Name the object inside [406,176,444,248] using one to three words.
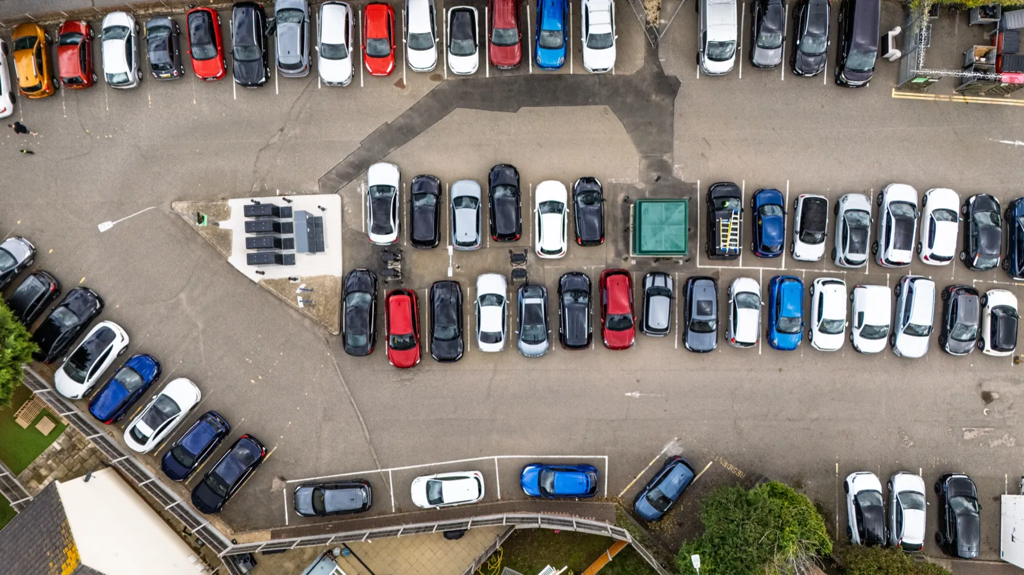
car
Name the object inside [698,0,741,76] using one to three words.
van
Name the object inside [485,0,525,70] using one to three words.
car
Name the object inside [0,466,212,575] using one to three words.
house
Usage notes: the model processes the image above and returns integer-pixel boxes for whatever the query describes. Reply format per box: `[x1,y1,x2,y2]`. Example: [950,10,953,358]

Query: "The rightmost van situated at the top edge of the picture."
[837,0,885,88]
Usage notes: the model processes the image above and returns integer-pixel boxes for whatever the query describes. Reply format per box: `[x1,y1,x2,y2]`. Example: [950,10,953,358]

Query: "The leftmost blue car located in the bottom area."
[88,354,161,426]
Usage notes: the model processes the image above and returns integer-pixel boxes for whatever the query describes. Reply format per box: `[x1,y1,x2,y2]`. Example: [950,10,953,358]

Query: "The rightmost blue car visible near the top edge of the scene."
[532,0,571,70]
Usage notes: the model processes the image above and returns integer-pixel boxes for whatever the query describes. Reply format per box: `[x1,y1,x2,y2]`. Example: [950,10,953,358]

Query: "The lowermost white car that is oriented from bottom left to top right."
[124,379,200,455]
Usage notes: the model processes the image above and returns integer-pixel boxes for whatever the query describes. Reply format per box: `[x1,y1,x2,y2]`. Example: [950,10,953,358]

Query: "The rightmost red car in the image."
[599,270,639,350]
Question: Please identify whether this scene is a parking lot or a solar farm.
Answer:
parking lot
